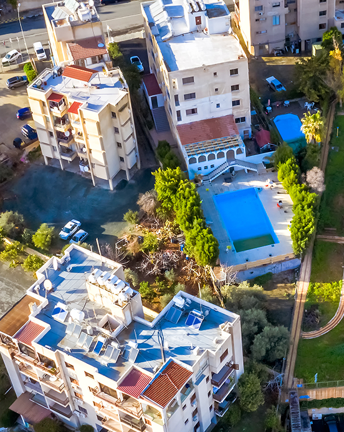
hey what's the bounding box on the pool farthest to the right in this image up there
[271,111,308,144]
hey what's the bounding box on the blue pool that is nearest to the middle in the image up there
[211,185,281,254]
